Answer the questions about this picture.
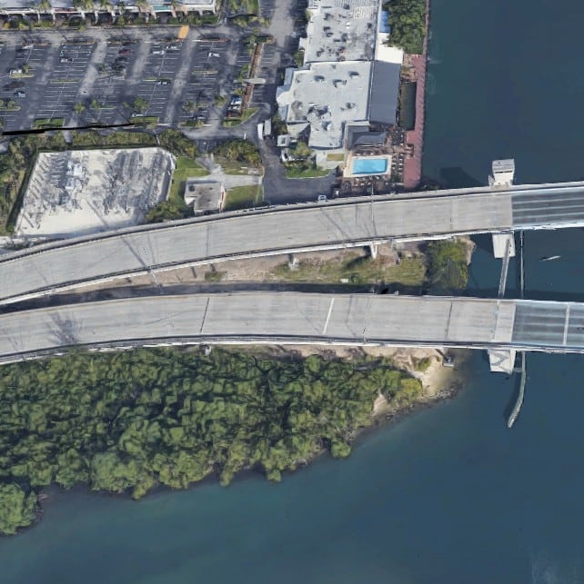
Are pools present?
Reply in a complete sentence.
Yes, a pool is visible in the scene.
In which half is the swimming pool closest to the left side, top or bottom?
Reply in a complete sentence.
Seen from above, the swimming pool closest to the left side lies in the top half of the view.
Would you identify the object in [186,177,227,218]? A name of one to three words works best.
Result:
building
